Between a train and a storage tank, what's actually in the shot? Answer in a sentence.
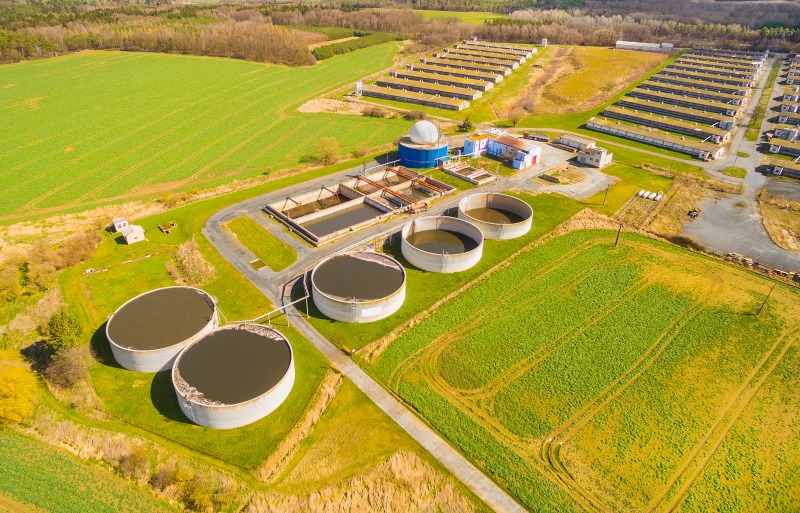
The image shows a storage tank.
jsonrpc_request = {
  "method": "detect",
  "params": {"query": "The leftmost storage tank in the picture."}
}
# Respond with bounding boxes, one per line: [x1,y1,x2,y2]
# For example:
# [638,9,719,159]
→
[105,286,224,372]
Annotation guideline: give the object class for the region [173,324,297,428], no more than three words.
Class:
storage tank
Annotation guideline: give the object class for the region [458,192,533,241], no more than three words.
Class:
storage tank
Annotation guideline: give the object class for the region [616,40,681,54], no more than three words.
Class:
shed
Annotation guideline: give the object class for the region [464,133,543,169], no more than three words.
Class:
building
